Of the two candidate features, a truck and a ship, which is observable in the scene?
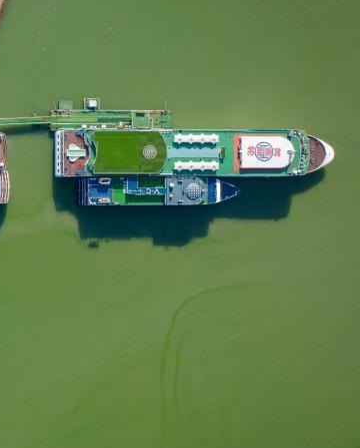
ship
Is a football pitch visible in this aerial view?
No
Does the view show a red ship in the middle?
No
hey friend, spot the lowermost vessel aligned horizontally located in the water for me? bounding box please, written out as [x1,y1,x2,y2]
[78,177,239,206]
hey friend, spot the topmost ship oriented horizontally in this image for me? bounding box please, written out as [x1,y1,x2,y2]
[52,130,333,177]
